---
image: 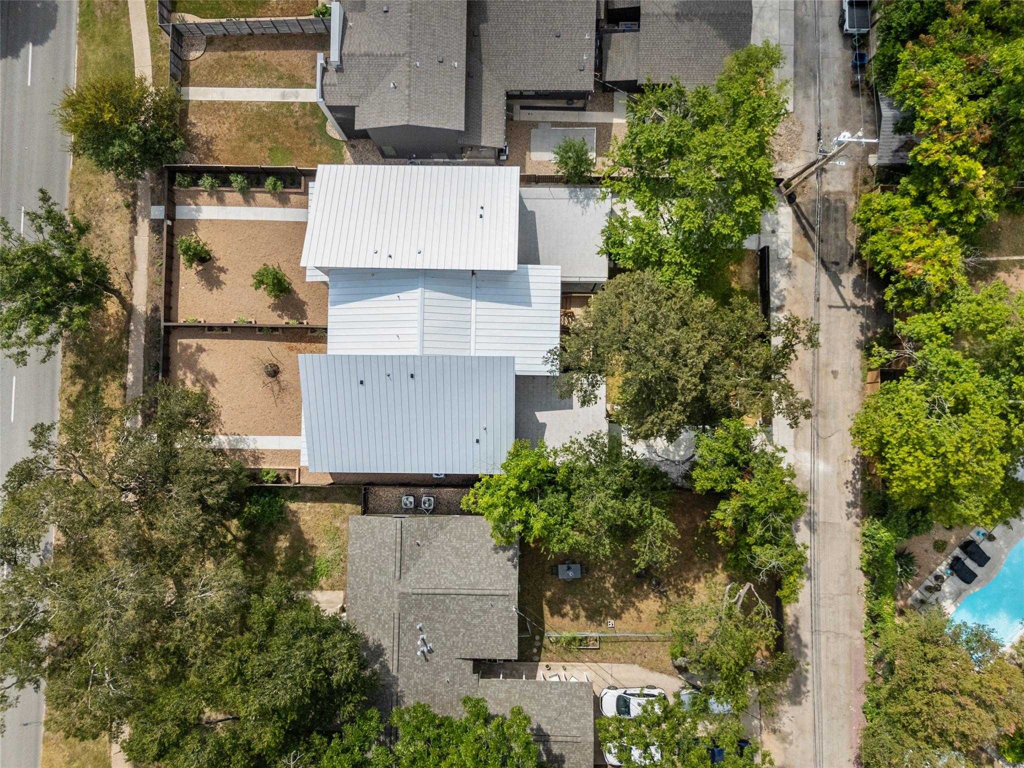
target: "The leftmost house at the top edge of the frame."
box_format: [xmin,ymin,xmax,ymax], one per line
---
[316,0,596,159]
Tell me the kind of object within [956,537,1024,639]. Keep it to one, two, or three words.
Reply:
swimming pool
